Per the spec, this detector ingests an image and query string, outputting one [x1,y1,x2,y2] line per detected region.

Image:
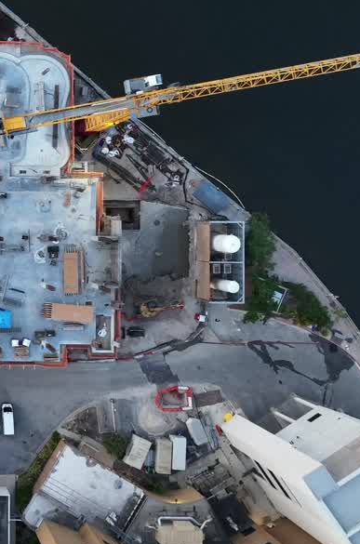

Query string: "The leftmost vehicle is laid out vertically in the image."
[1,405,16,438]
